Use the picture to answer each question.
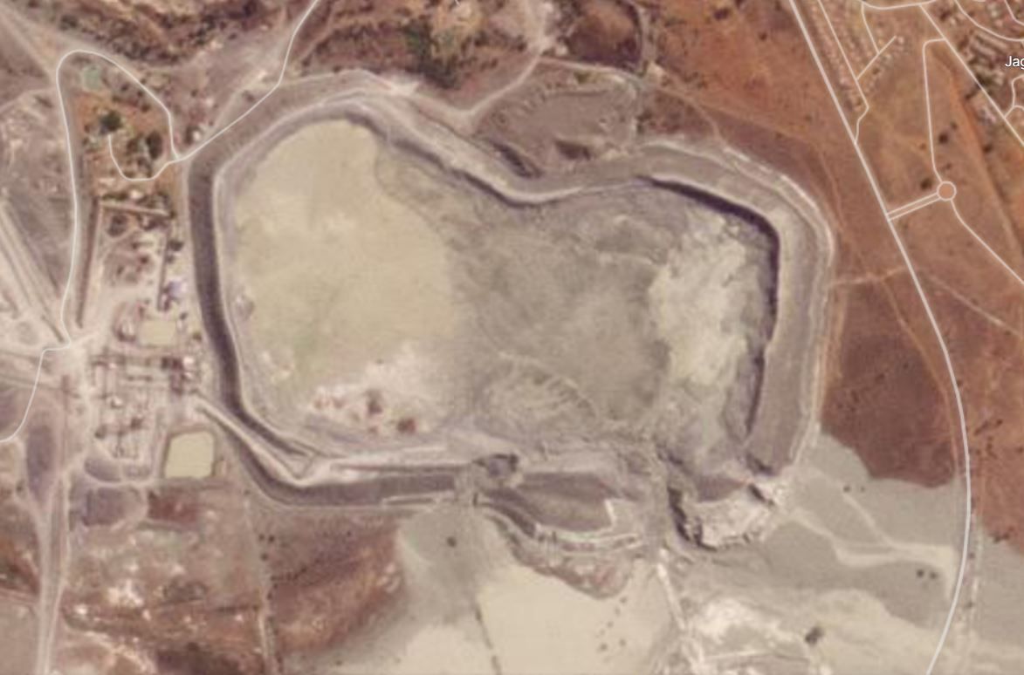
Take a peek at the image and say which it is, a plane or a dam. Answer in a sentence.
It is a dam that can be seen here.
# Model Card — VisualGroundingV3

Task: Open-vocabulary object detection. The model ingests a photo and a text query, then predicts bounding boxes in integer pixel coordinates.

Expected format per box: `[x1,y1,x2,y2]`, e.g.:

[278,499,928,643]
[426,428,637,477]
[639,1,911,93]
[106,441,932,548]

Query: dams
[188,73,835,508]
